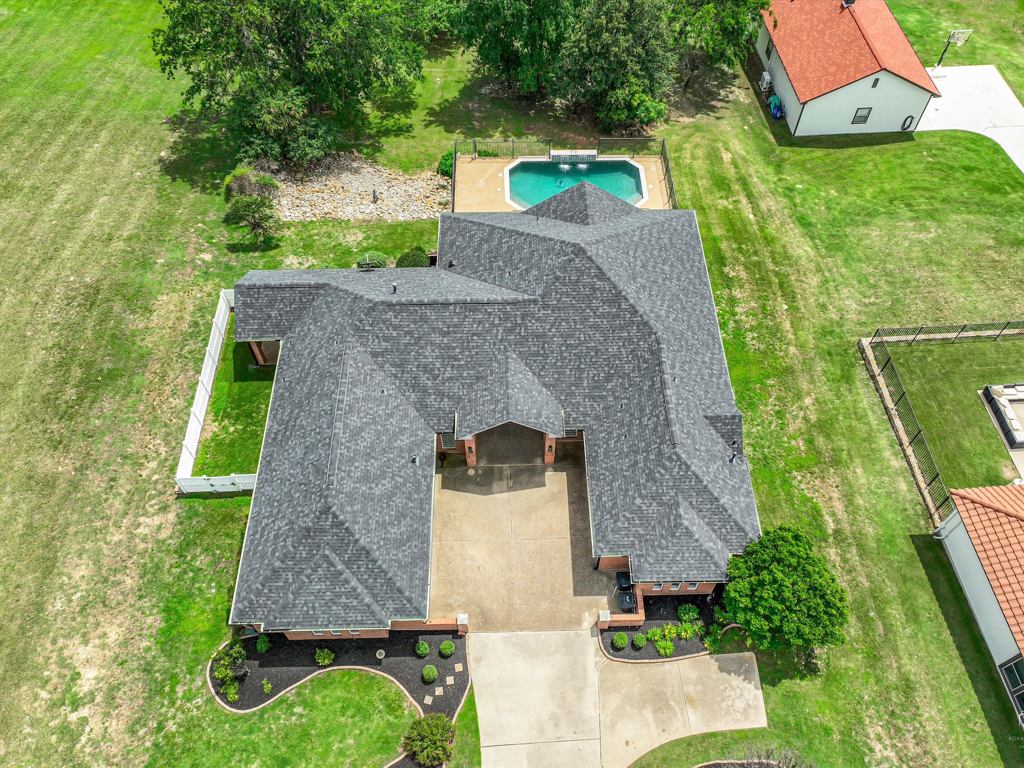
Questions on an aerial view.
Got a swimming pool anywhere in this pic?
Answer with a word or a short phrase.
Yes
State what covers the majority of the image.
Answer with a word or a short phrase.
grass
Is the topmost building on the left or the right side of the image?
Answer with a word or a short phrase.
right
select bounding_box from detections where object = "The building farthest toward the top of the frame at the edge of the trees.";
[757,0,939,137]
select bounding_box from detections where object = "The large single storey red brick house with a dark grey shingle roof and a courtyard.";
[229,180,764,641]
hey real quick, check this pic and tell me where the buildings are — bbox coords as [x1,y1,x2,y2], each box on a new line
[757,0,939,137]
[229,180,764,641]
[935,480,1024,729]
